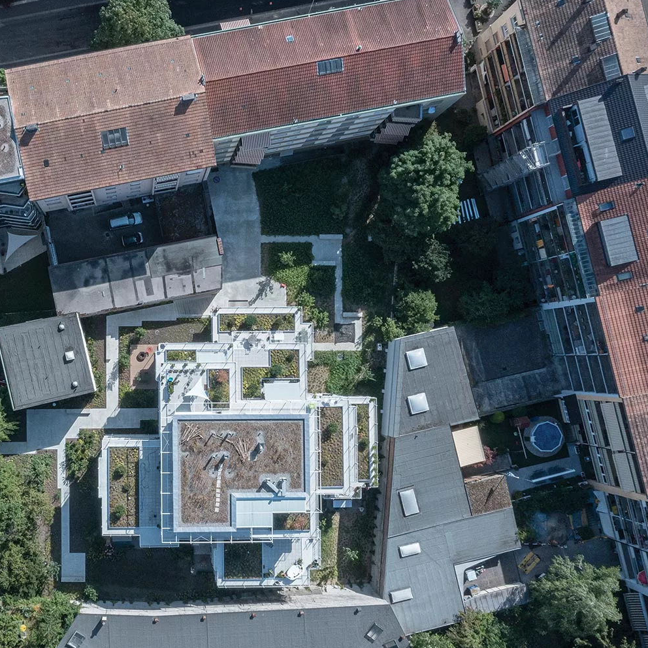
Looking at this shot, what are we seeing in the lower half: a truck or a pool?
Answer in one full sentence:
Looking in the lower half, you will find a pool.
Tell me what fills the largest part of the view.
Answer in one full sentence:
The bulk of the photo consists of buildings.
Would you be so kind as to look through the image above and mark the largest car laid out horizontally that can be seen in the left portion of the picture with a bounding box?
[108,211,144,229]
